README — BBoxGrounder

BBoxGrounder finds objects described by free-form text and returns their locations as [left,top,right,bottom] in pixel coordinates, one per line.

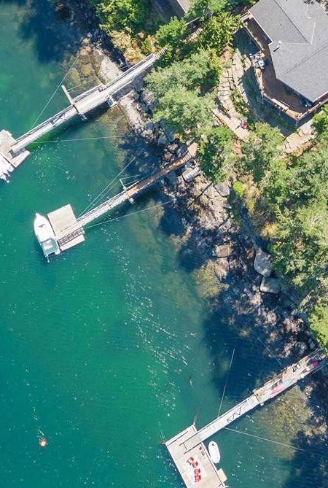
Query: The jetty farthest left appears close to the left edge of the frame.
[0,129,32,168]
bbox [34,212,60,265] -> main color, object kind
white boat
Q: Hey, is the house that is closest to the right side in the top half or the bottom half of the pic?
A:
top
